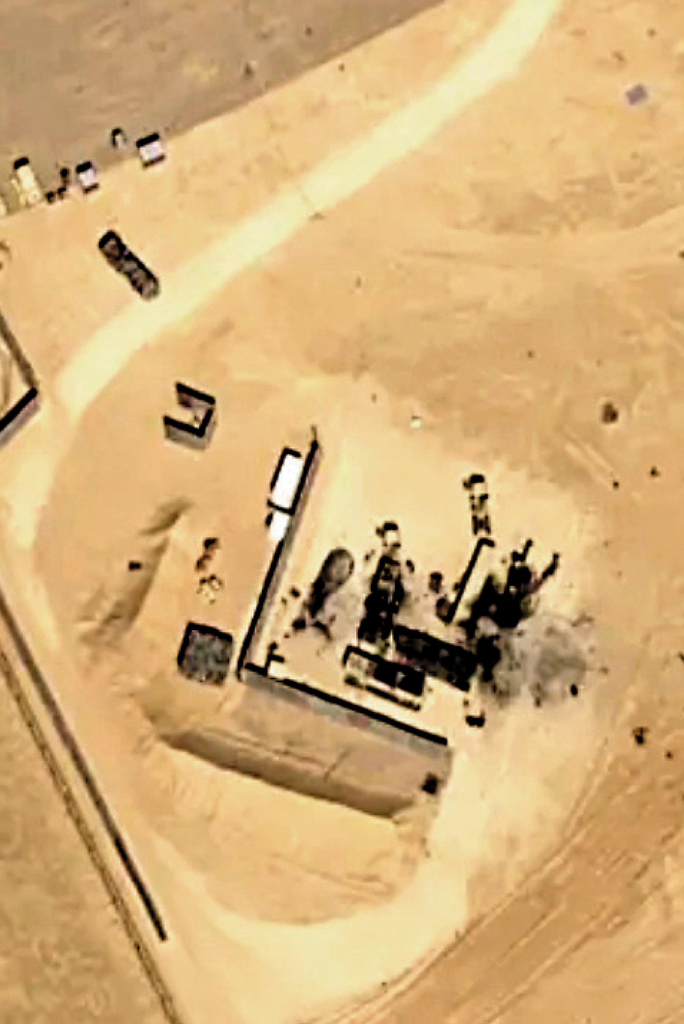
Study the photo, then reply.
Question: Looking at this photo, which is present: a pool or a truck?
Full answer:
It is a truck that can be seen here.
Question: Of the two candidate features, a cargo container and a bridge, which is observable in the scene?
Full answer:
This aerial view contains a cargo container.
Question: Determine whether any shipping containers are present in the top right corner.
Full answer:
No, no shipping container can be made out in the top right corner.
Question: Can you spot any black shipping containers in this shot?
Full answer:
Yes, I can see a black shipping container in this picture.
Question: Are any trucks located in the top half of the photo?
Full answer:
Yes, a truck is visible in the top half of the photo.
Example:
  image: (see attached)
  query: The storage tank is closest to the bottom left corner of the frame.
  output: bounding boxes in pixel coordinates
[313,558,357,622]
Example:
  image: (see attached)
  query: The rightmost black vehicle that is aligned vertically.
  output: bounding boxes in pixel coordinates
[504,554,533,605]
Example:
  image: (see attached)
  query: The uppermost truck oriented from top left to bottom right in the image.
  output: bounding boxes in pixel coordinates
[100,240,158,304]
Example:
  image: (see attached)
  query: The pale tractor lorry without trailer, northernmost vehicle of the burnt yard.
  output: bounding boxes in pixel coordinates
[469,485,496,538]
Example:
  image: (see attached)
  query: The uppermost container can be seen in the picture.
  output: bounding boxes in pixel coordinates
[273,456,305,507]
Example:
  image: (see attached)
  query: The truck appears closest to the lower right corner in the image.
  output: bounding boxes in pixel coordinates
[463,680,488,726]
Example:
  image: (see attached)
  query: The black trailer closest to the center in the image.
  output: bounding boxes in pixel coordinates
[365,561,402,640]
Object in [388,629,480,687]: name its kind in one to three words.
shipping container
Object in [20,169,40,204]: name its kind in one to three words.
vehicle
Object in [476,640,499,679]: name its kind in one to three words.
truck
